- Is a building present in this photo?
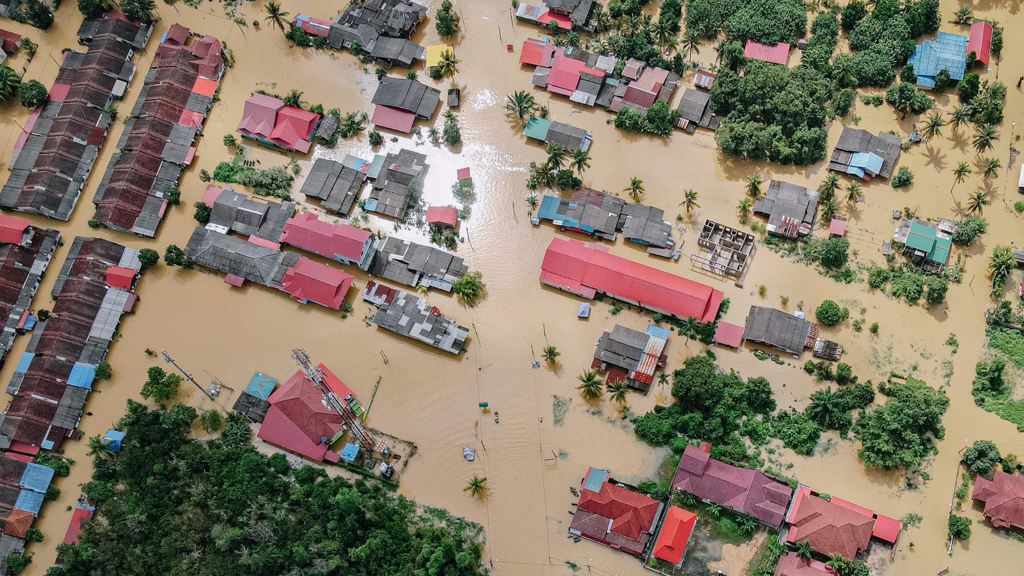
Yes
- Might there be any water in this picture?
Yes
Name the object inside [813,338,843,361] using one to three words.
shed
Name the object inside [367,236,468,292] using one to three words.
house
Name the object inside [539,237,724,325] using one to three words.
house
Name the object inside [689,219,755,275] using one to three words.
building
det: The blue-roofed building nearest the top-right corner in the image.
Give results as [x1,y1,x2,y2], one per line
[909,32,967,89]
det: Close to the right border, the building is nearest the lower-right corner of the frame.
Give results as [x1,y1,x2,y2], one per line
[971,470,1024,528]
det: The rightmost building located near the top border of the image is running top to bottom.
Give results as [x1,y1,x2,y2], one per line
[968,21,993,69]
